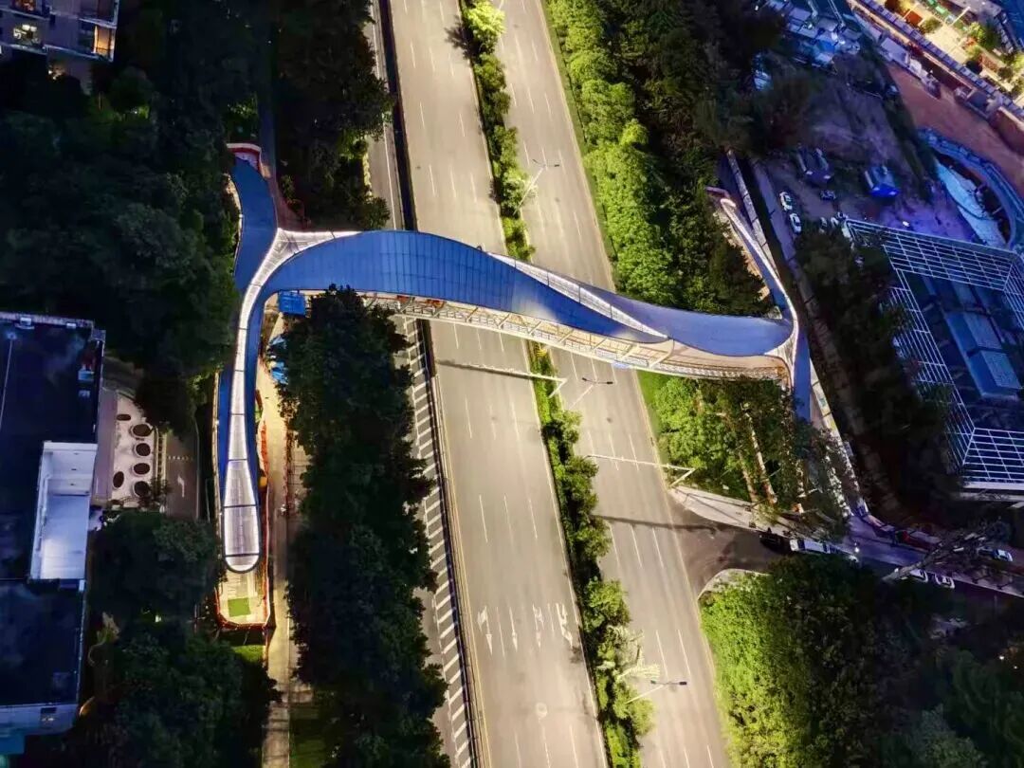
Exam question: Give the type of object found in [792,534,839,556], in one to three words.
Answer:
vehicle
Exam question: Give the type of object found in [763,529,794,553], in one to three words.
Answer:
car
